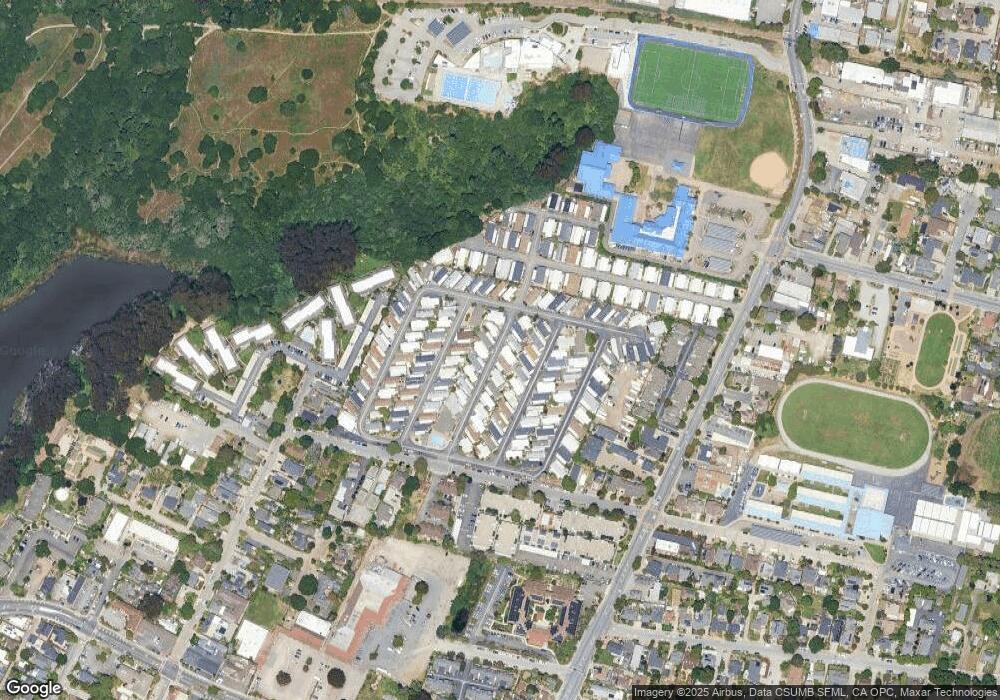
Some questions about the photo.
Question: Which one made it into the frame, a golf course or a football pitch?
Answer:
football pitch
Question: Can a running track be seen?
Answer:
Yes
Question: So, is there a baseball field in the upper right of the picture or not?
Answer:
Yes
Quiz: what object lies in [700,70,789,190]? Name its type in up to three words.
baseball field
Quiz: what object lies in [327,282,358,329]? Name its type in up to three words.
building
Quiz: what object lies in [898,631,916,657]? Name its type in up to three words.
house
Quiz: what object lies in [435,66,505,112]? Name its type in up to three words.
swimming pool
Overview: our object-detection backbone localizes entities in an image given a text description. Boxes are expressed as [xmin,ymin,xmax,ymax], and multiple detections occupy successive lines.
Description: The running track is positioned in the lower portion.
[776,377,934,474]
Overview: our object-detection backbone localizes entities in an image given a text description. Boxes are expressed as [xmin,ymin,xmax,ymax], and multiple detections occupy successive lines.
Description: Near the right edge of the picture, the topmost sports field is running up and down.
[913,310,958,390]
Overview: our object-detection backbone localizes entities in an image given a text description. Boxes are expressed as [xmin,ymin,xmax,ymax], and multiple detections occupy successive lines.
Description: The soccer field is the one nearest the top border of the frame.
[630,35,754,127]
